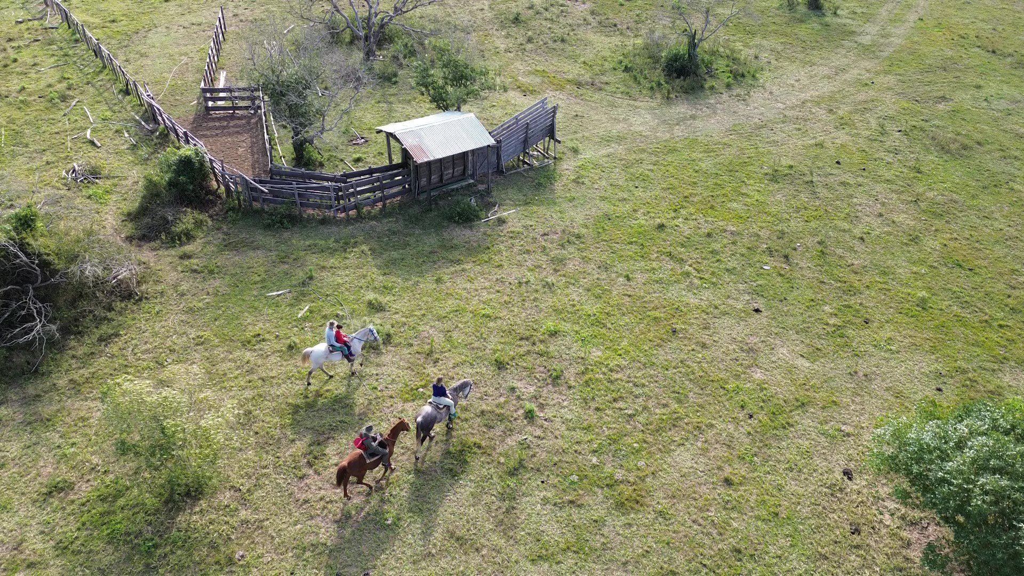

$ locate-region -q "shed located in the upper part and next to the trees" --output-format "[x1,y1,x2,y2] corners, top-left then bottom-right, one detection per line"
[371,112,504,210]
